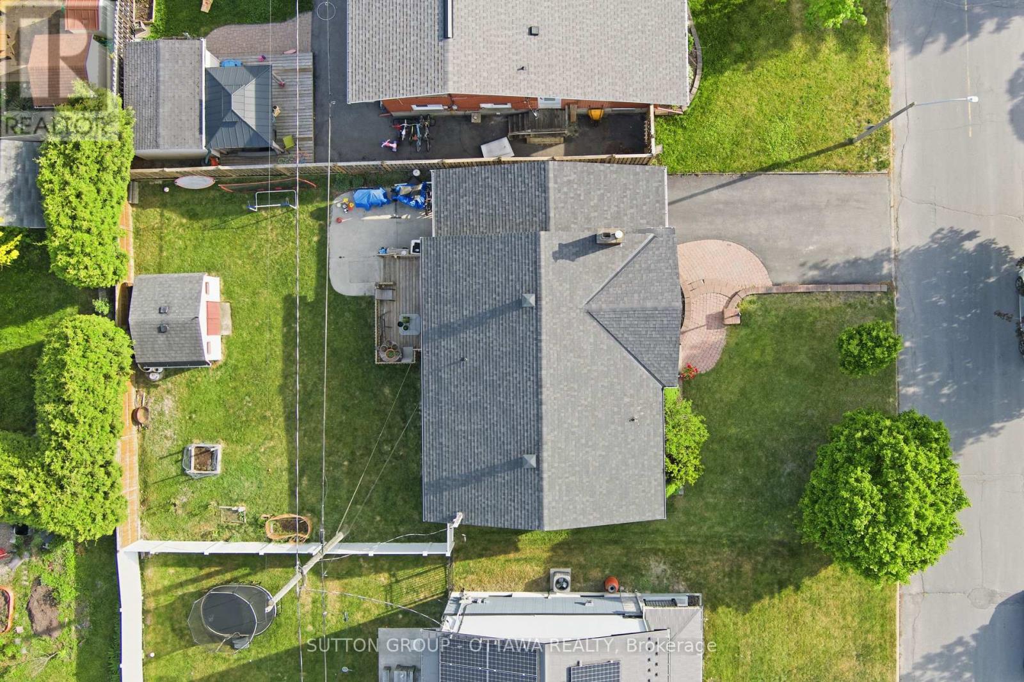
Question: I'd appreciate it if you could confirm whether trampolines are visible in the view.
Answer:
Yes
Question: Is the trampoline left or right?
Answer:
left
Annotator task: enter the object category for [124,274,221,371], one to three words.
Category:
shed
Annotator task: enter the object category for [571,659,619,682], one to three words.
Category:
solar panel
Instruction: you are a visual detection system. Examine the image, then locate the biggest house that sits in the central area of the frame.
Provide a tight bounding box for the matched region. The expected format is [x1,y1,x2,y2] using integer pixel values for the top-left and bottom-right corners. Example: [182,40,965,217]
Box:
[419,230,683,531]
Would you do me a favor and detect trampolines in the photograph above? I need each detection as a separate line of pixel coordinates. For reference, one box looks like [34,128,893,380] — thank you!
[188,579,281,655]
